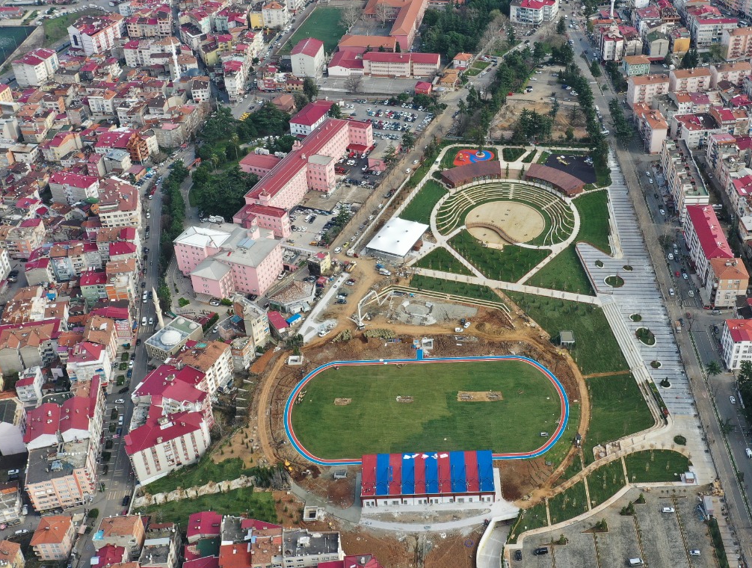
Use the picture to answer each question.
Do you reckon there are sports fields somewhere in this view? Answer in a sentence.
Yes, looking at the shot, I can spot a sports field.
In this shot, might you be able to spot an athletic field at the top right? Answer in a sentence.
No, I can find no athletic field at the top right.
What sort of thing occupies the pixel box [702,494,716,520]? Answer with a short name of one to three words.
shed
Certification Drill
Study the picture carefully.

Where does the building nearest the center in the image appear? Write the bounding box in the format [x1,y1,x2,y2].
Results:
[307,248,332,276]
